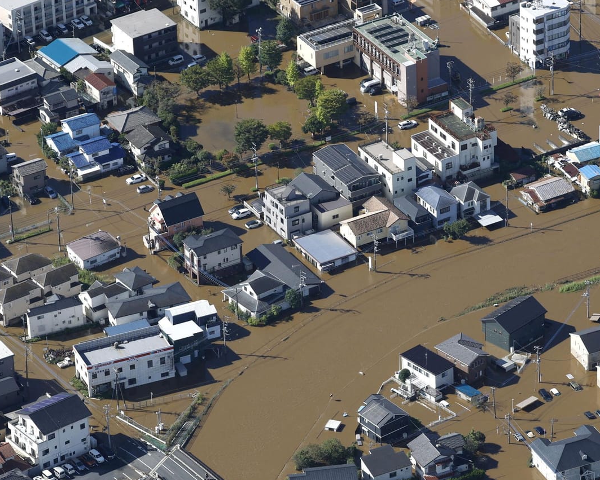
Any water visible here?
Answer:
Yes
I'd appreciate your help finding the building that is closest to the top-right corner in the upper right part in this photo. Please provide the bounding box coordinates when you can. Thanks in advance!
[518,0,571,67]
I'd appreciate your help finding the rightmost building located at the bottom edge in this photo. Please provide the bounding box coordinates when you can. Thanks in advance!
[533,427,600,480]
